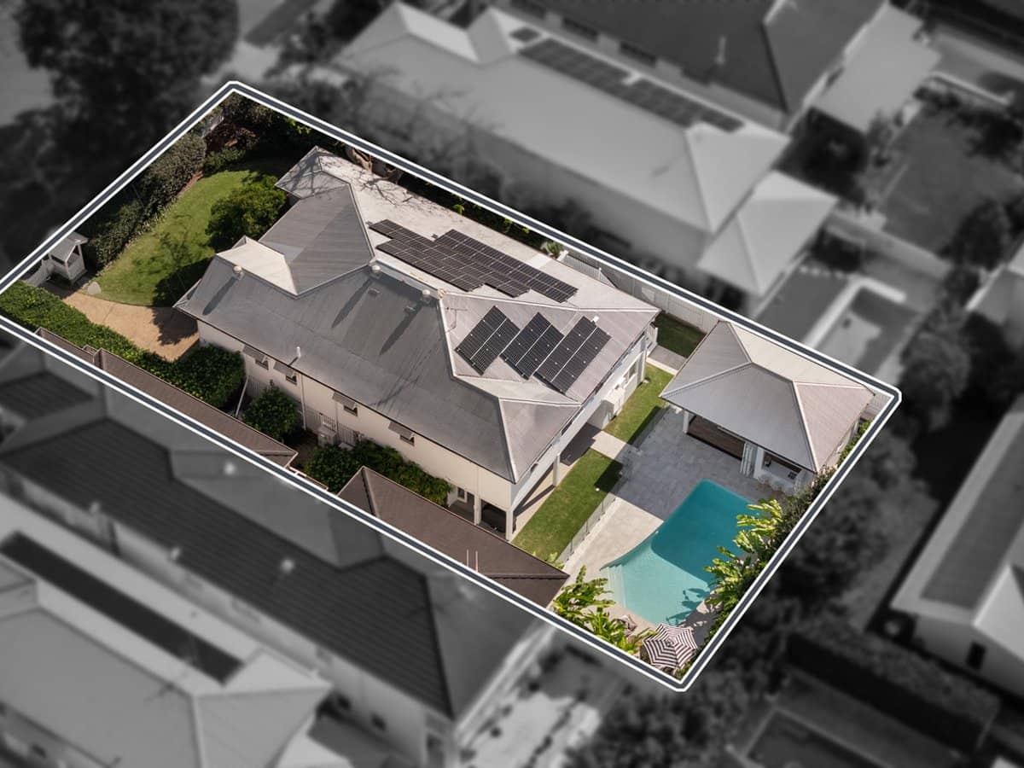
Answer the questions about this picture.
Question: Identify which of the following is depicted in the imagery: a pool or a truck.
pool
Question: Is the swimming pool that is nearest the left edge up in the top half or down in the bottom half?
bottom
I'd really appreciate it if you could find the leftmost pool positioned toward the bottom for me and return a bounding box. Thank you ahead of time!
[595,475,779,628]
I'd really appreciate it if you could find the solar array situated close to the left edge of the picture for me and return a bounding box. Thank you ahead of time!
[0,530,238,672]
